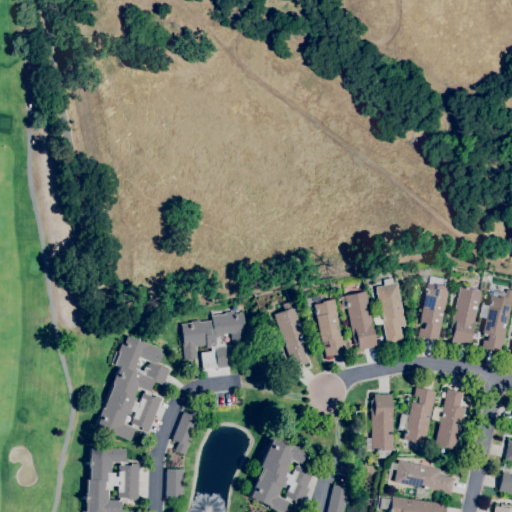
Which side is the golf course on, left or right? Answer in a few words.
left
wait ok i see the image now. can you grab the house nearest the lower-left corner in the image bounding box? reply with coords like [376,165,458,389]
[88,450,140,512]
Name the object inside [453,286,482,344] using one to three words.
house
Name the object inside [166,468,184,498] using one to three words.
house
